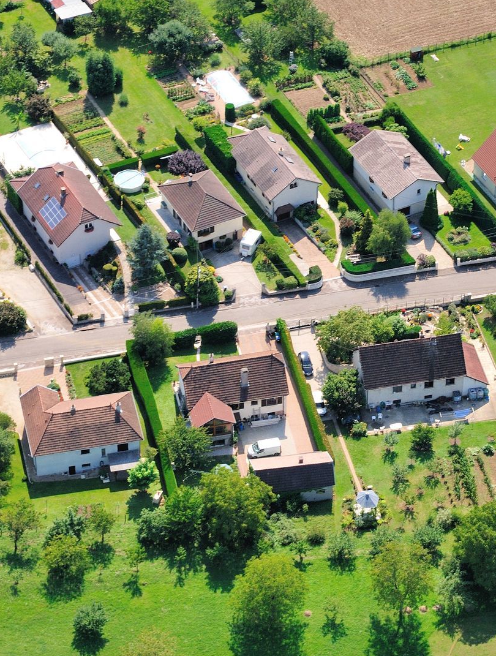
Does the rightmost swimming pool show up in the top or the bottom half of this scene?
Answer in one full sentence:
Seen from above, the rightmost swimming pool lies in the top half of the view.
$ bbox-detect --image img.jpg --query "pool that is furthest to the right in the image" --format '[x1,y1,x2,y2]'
[114,173,145,198]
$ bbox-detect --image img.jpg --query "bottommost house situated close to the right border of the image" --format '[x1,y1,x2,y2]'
[354,330,482,407]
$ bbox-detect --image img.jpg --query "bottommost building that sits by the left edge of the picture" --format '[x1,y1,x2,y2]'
[18,385,145,474]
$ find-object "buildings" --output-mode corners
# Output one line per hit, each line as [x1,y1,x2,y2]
[175,352,293,446]
[410,46,423,61]
[471,133,496,203]
[18,385,145,474]
[227,126,323,225]
[354,330,482,407]
[254,450,336,509]
[41,0,92,31]
[347,130,444,215]
[9,161,124,268]
[157,169,246,250]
